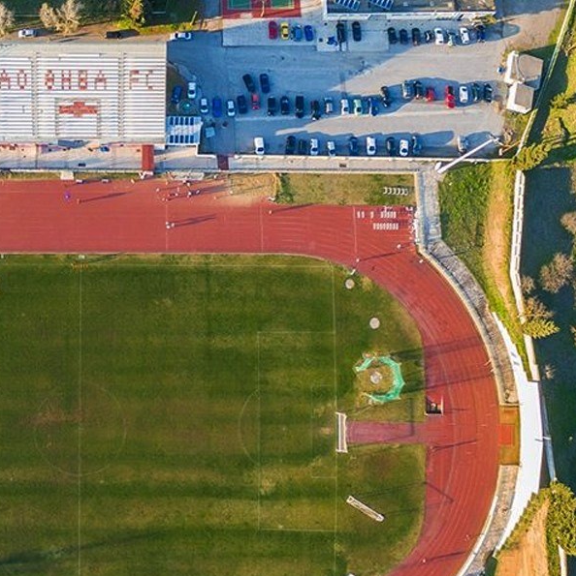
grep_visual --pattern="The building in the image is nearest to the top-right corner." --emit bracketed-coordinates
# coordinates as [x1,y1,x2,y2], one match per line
[502,51,543,91]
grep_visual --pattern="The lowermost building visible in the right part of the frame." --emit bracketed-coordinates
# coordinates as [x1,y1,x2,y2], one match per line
[504,85,534,115]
